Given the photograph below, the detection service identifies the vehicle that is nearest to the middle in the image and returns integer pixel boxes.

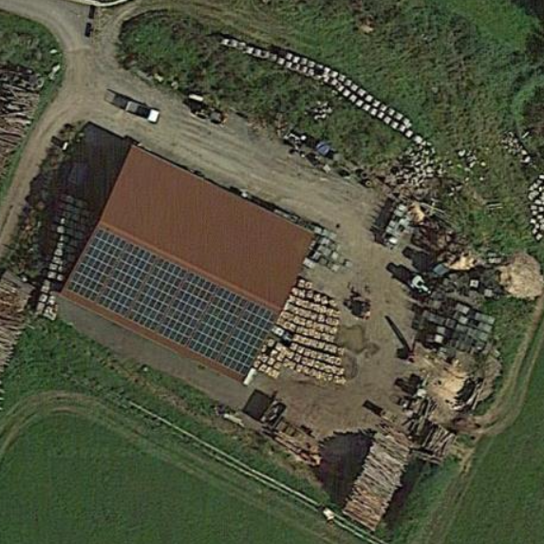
[347,288,368,317]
